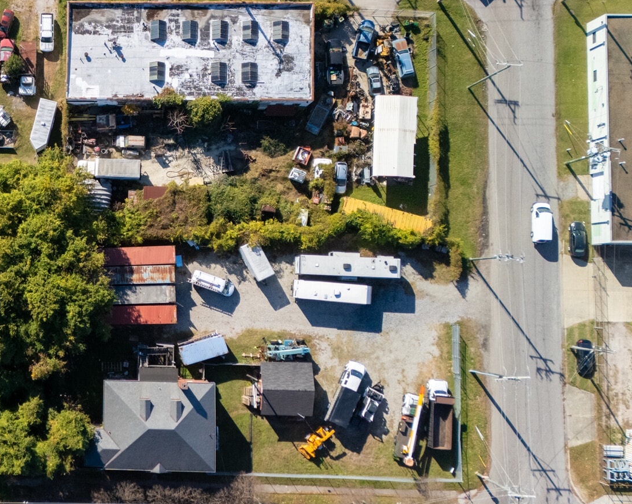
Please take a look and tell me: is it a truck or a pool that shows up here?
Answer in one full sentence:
The image shows a truck.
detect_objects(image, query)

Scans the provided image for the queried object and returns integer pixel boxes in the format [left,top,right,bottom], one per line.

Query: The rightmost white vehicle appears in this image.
[526,204,550,244]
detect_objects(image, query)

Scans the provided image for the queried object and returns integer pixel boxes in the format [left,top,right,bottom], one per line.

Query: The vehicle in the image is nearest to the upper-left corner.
[0,6,14,39]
